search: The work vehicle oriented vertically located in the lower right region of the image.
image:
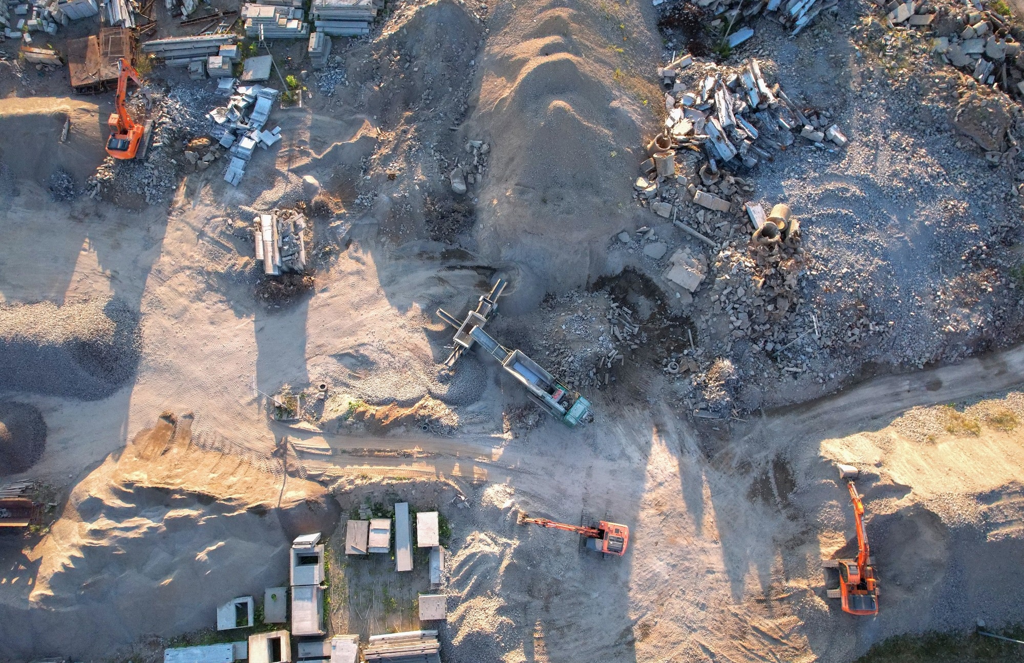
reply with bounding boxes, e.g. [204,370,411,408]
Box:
[821,473,883,612]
